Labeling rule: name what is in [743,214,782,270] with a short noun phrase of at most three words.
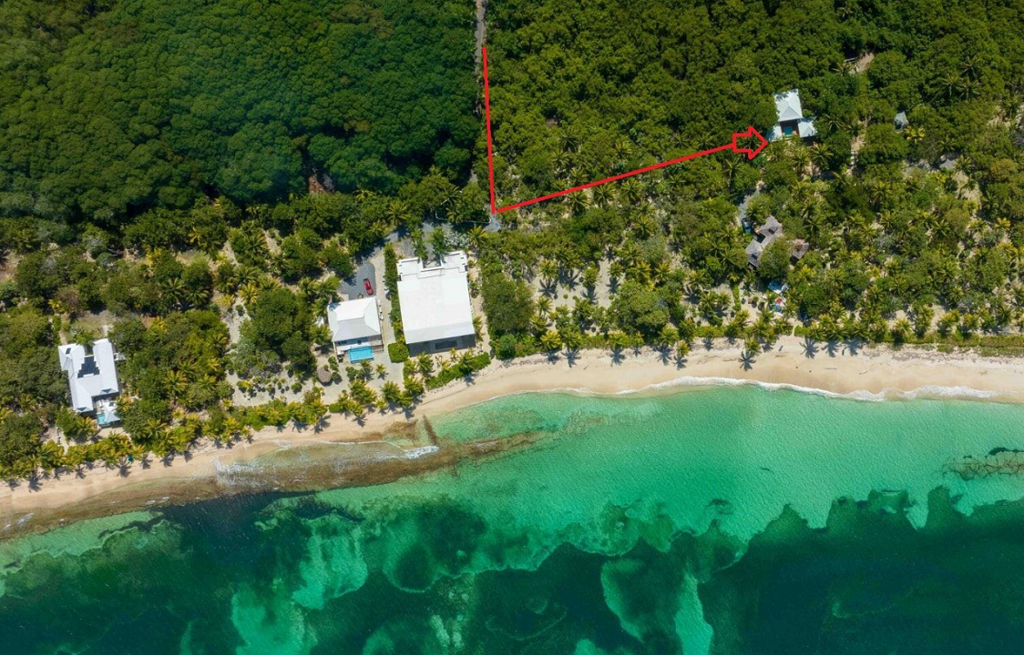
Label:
house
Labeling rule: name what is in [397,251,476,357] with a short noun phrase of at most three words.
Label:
house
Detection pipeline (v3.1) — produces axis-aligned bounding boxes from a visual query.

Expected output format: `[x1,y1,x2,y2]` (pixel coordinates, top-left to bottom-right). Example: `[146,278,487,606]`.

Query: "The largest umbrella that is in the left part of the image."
[317,367,333,383]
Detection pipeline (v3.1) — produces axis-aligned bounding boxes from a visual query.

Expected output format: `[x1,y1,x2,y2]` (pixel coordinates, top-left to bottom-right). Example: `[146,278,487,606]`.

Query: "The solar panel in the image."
[78,356,100,378]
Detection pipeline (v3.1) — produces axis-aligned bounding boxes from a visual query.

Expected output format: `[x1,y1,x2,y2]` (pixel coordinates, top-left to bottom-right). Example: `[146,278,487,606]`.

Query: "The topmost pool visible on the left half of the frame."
[348,346,375,363]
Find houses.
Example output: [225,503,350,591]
[327,297,381,341]
[767,89,818,143]
[743,214,782,270]
[59,339,124,412]
[397,251,476,357]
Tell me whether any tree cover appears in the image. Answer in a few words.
Yes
